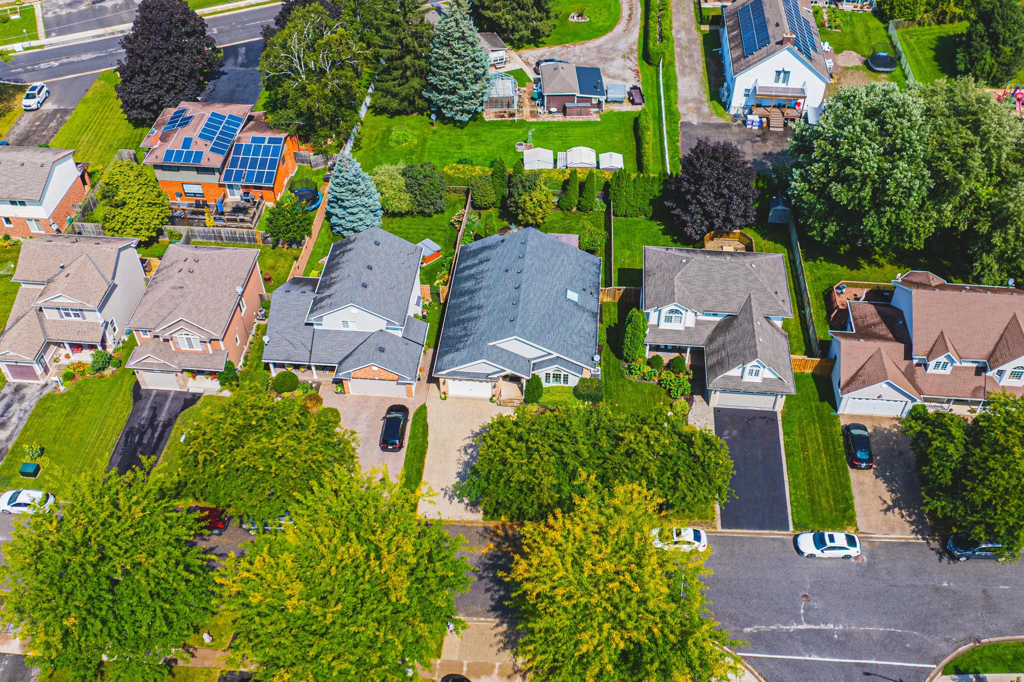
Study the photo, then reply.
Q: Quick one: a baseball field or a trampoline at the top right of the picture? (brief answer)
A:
trampoline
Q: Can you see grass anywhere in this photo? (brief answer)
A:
Yes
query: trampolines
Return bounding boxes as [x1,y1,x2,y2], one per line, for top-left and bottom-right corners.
[865,44,898,74]
[287,180,324,211]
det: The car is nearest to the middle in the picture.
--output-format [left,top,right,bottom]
[379,402,409,448]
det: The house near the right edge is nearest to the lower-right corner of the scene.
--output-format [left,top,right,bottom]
[824,267,1024,422]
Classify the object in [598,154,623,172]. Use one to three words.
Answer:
shed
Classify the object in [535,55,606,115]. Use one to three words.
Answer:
building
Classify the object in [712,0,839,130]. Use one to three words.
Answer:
house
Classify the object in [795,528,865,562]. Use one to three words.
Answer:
car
